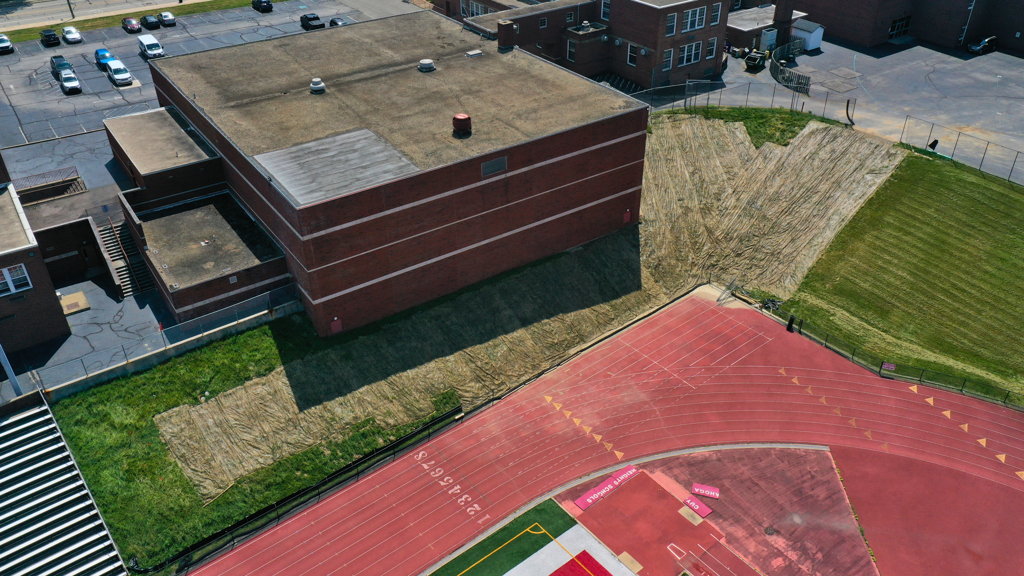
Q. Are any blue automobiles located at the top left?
Yes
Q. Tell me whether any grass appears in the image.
Yes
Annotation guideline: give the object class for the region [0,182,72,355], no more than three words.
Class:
building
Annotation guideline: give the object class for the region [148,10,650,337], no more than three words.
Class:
building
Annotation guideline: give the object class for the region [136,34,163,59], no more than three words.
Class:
vehicle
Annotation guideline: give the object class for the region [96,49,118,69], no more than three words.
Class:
car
